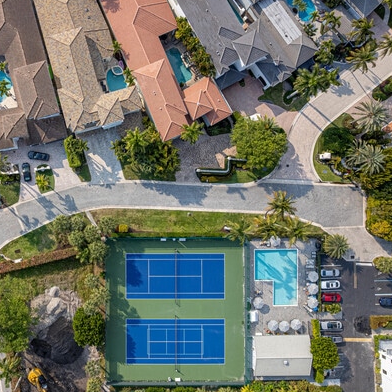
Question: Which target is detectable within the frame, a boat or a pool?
pool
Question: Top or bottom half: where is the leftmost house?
top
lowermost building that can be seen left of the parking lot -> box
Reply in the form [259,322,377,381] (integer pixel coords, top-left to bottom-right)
[247,332,313,377]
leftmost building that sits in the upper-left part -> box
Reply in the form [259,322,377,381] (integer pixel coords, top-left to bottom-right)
[0,0,66,150]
